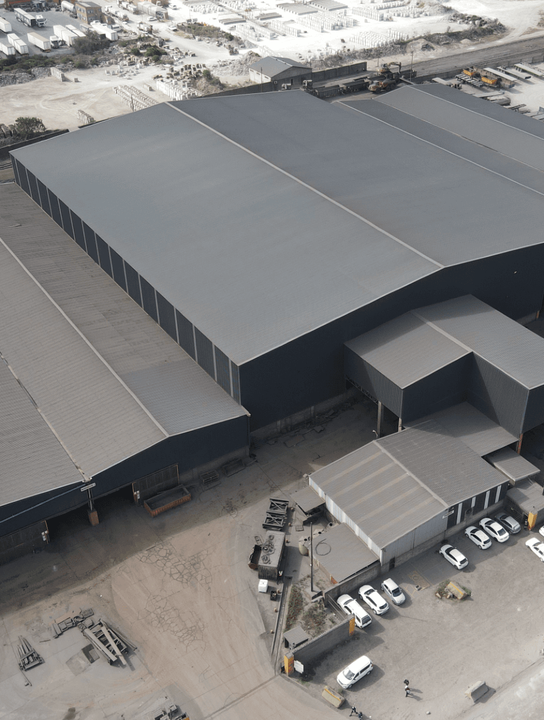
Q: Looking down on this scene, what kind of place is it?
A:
industrial area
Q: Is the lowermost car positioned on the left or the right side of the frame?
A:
right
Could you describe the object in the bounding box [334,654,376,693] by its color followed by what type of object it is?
white car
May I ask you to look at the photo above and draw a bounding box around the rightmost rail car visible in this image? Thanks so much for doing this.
[397,68,420,82]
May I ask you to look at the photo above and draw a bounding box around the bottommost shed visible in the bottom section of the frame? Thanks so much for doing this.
[284,627,308,652]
